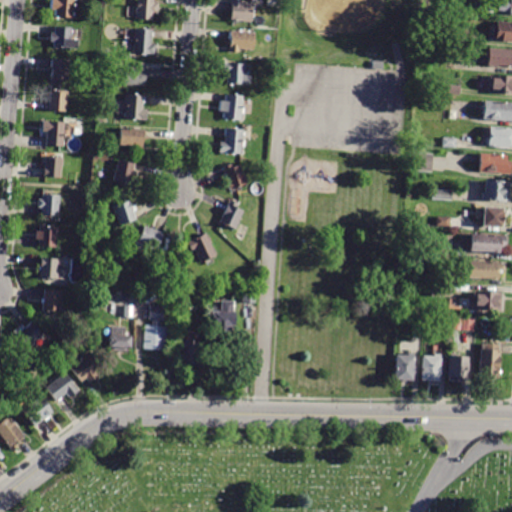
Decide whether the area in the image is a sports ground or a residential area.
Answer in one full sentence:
The picture captures a residential area.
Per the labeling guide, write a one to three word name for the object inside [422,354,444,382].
house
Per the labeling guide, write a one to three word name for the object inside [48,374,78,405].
house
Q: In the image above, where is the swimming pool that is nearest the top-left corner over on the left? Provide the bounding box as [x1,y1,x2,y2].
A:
[67,138,81,154]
